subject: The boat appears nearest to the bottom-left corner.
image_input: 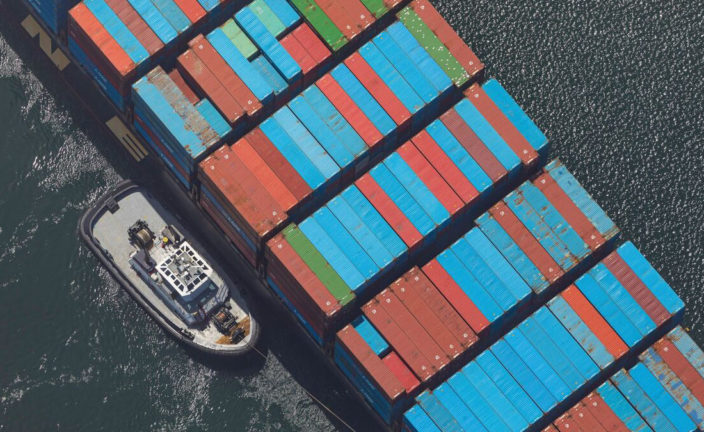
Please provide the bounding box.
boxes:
[77,185,258,359]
